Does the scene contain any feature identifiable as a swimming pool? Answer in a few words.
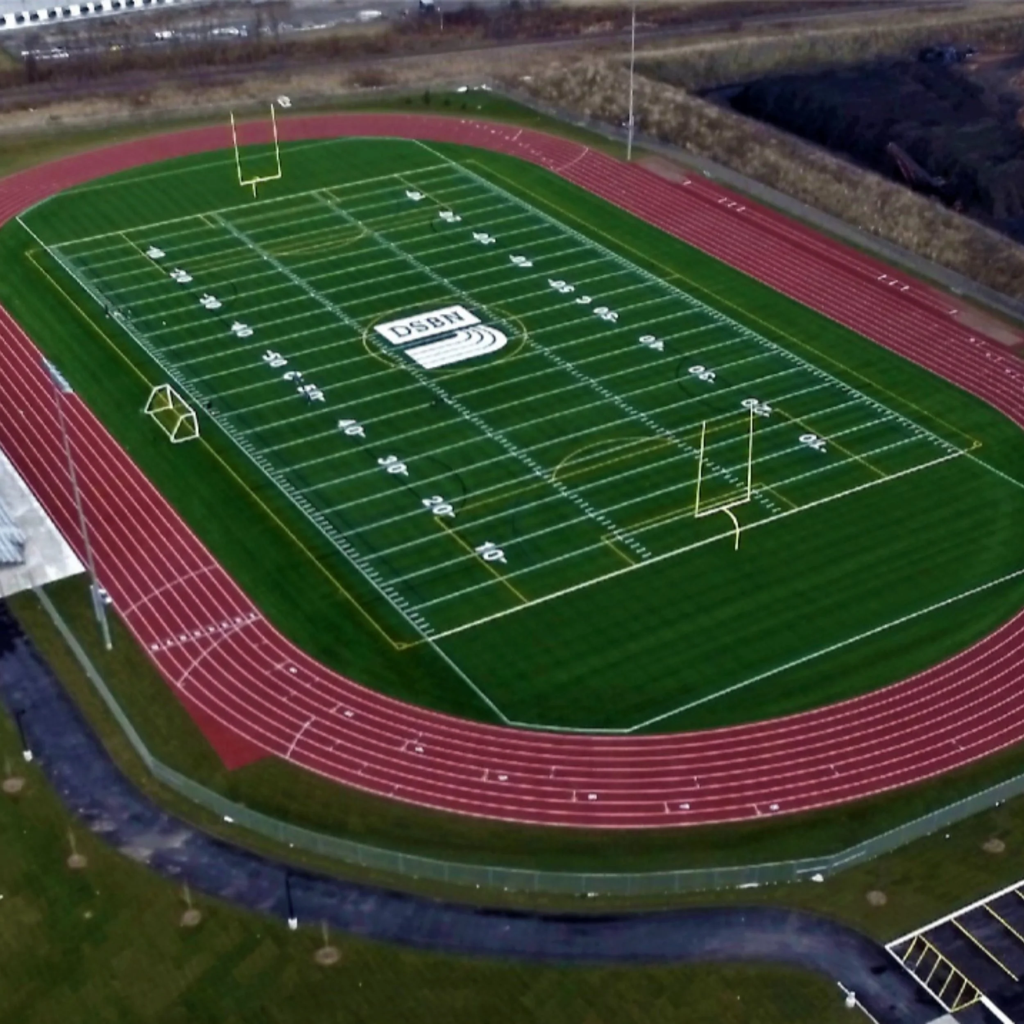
No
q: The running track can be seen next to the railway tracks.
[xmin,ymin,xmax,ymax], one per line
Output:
[0,116,1024,825]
